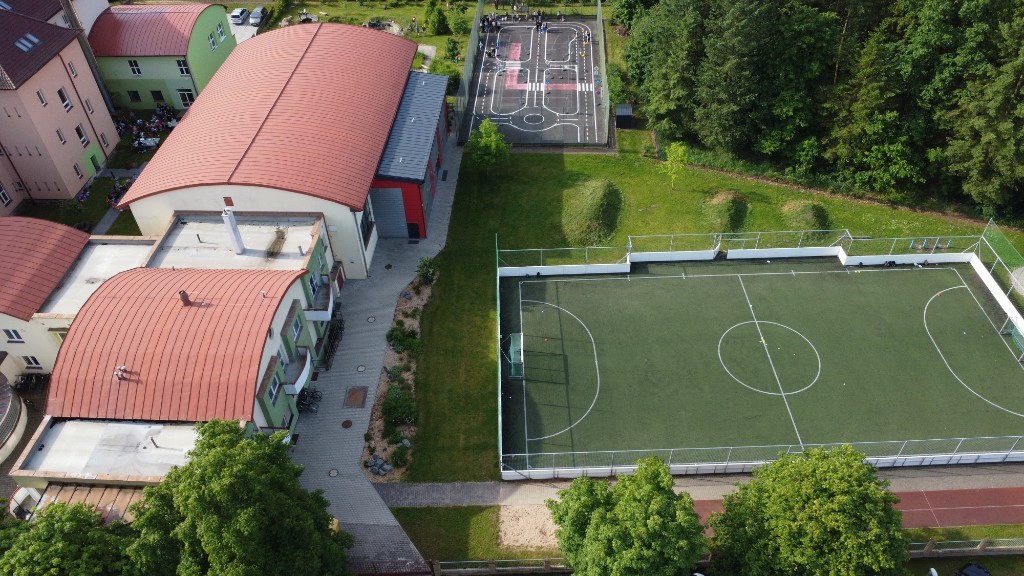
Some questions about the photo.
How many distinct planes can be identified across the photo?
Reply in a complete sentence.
The photo contains no planes.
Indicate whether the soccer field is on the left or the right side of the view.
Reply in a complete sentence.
The soccer field appears in the right half of the scene.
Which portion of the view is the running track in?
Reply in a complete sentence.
The running track appears toward the bottom right of the photo.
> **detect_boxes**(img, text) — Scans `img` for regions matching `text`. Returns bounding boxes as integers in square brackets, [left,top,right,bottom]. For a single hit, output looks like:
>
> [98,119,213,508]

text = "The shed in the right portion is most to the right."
[621,95,640,128]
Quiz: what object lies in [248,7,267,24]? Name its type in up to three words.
car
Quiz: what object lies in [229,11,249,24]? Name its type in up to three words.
vehicle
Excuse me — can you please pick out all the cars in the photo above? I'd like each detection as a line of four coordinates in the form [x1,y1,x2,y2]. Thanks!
[229,11,249,24]
[248,7,267,24]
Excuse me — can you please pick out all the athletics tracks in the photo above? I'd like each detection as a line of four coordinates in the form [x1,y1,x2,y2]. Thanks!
[881,487,1024,532]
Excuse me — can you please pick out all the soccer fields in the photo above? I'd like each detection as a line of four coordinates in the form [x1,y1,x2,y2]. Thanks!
[499,255,1024,470]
